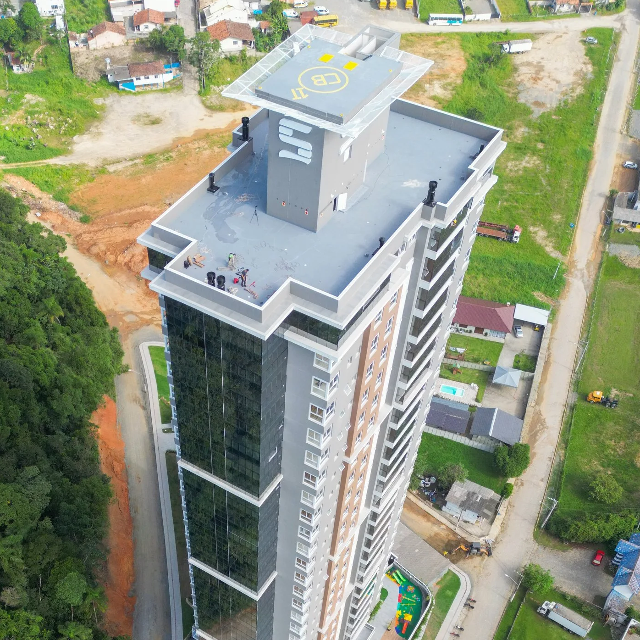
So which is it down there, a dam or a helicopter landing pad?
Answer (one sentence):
There is a helicopter landing pad in the scene.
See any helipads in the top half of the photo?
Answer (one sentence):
Yes, a helipad is visible in the top half of the photo.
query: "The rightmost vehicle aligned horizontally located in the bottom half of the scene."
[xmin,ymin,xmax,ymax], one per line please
[585,390,623,409]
